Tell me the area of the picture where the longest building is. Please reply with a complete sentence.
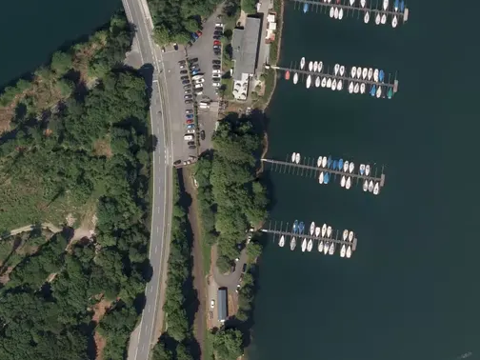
The longest building is in the top part of the image.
